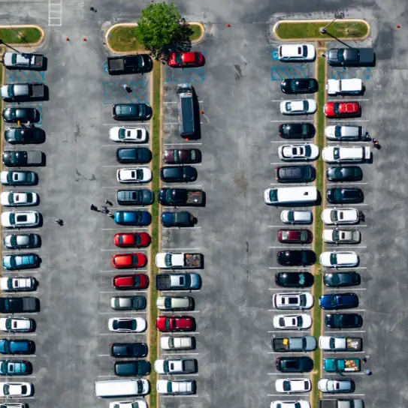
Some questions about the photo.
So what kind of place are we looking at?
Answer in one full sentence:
The area seen from above is a parking lot.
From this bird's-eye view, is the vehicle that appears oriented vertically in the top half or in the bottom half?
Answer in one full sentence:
Seen from above, the vehicle that appears oriented vertically lies in the top half of the view.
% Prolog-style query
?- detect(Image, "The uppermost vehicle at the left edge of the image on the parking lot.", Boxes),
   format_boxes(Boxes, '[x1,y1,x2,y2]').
[3,51,45,69]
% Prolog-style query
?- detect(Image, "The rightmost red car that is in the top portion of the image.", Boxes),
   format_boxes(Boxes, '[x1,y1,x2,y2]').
[323,100,361,118]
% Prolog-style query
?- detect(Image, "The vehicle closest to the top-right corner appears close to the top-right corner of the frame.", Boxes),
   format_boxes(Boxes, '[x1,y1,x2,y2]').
[327,47,375,66]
